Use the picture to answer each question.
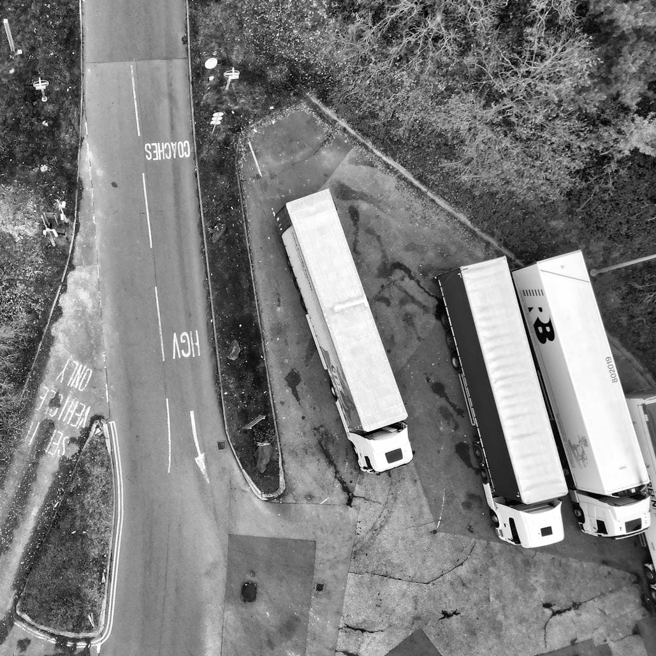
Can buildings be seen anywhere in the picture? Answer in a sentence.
No, there isn't any building down there.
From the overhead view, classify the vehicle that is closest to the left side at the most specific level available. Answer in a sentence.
The vehicle that is closest to the left side can be classified as a truck.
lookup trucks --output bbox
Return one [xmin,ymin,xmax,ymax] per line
[510,251,650,542]
[435,258,569,552]
[275,190,418,478]
[626,393,656,603]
